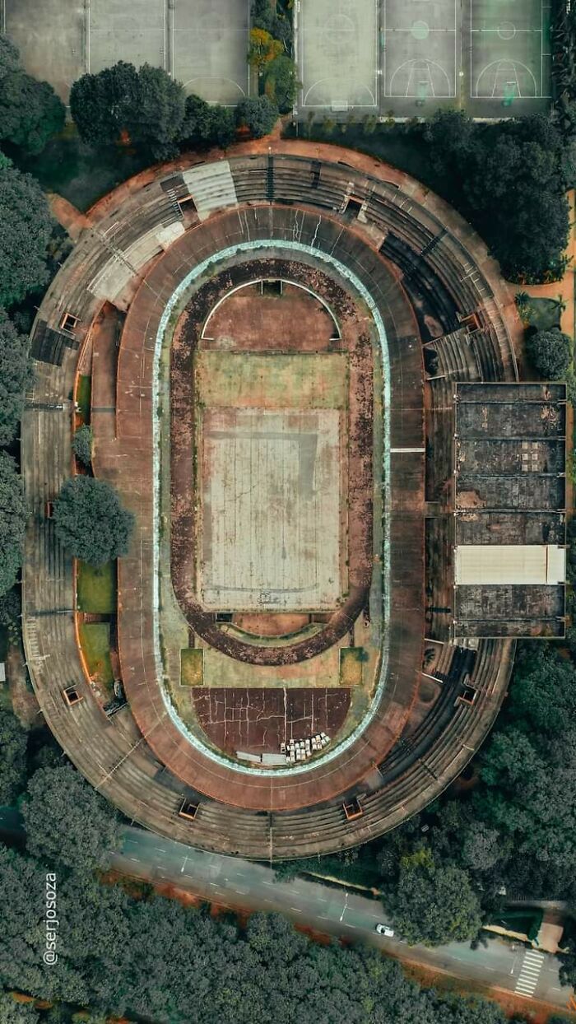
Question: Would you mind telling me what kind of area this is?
sports ground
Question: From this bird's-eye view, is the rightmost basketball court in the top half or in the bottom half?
top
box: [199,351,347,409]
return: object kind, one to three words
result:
sports field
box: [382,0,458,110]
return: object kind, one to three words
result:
basketball court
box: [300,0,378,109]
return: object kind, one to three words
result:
sports court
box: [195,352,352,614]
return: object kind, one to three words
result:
sports field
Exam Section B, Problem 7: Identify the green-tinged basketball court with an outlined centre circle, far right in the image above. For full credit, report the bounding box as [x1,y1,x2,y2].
[469,0,551,110]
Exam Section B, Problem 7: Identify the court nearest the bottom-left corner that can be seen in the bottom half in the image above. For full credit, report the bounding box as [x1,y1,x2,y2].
[192,688,351,757]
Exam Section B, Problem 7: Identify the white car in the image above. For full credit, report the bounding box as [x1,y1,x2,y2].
[375,924,393,936]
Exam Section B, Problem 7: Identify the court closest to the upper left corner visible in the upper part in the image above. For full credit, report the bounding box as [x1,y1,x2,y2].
[3,0,83,107]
